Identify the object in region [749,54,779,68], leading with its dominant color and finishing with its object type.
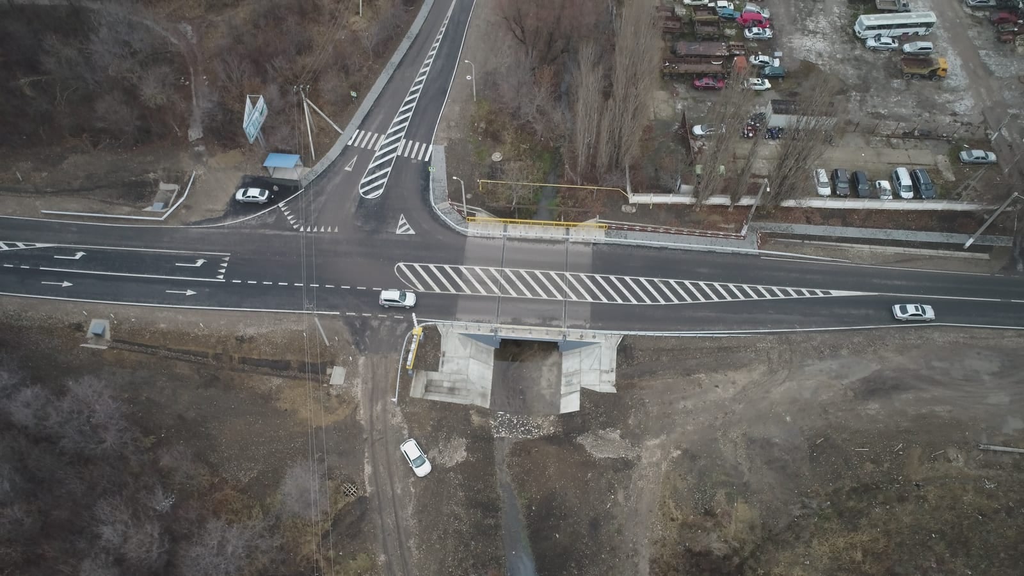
white car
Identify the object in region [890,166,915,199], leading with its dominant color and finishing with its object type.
white car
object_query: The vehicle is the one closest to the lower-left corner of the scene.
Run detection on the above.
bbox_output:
[402,436,432,479]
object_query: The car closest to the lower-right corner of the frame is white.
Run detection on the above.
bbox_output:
[891,304,935,323]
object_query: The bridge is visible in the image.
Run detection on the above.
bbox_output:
[442,222,606,351]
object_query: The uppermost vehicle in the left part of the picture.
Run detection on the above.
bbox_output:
[235,186,273,205]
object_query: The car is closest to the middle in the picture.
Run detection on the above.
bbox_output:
[378,289,417,309]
